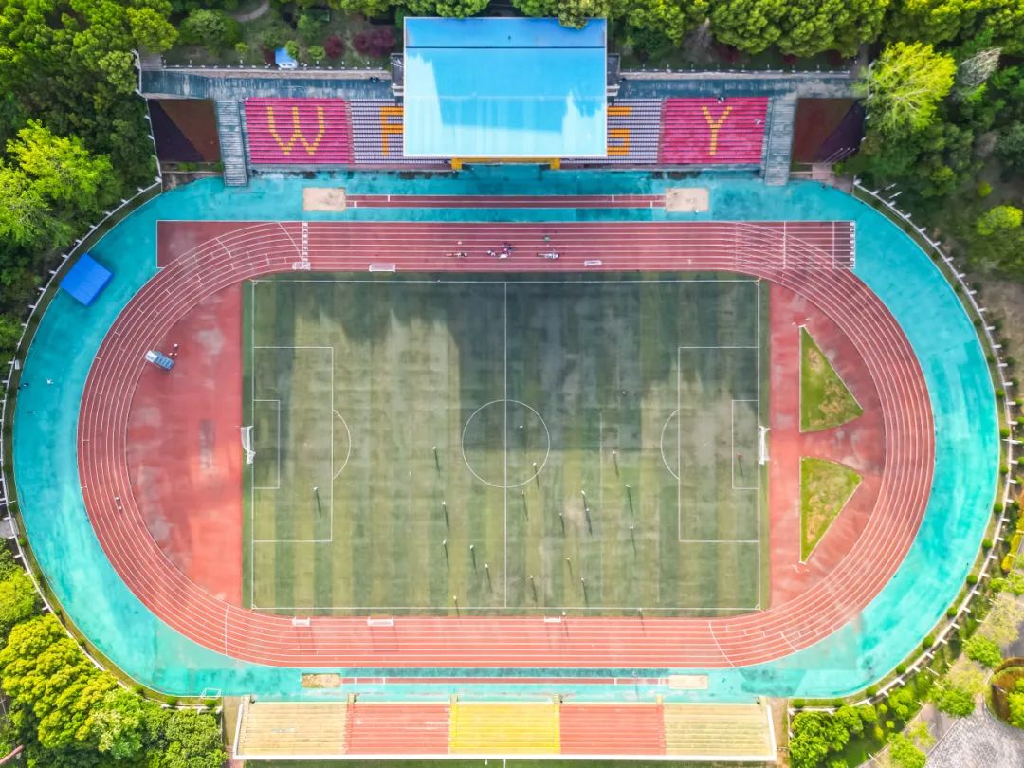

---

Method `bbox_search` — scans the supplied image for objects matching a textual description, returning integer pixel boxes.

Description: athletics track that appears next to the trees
[77,221,935,668]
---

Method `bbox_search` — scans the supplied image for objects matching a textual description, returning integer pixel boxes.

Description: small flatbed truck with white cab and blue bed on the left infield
[142,348,175,371]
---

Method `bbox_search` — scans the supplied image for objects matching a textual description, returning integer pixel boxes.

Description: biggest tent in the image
[61,253,120,306]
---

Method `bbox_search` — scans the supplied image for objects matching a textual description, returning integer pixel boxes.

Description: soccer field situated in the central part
[242,271,769,618]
